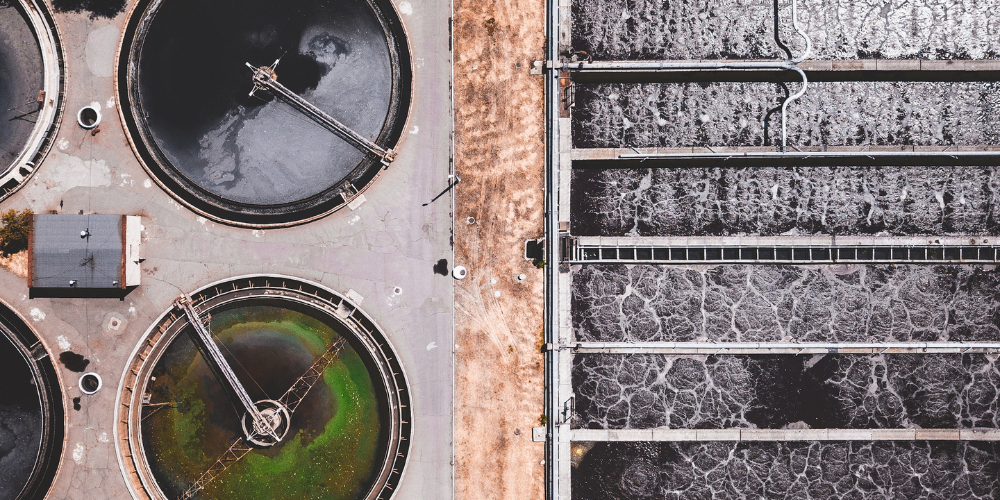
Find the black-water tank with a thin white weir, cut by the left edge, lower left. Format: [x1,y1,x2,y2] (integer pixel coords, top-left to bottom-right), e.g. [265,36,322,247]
[0,300,67,500]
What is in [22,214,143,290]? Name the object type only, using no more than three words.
shed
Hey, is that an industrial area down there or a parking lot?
industrial area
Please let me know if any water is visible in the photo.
Yes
